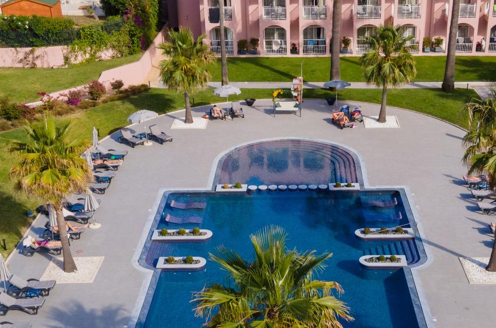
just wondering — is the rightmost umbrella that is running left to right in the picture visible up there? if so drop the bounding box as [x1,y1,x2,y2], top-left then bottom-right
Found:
[321,80,352,94]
